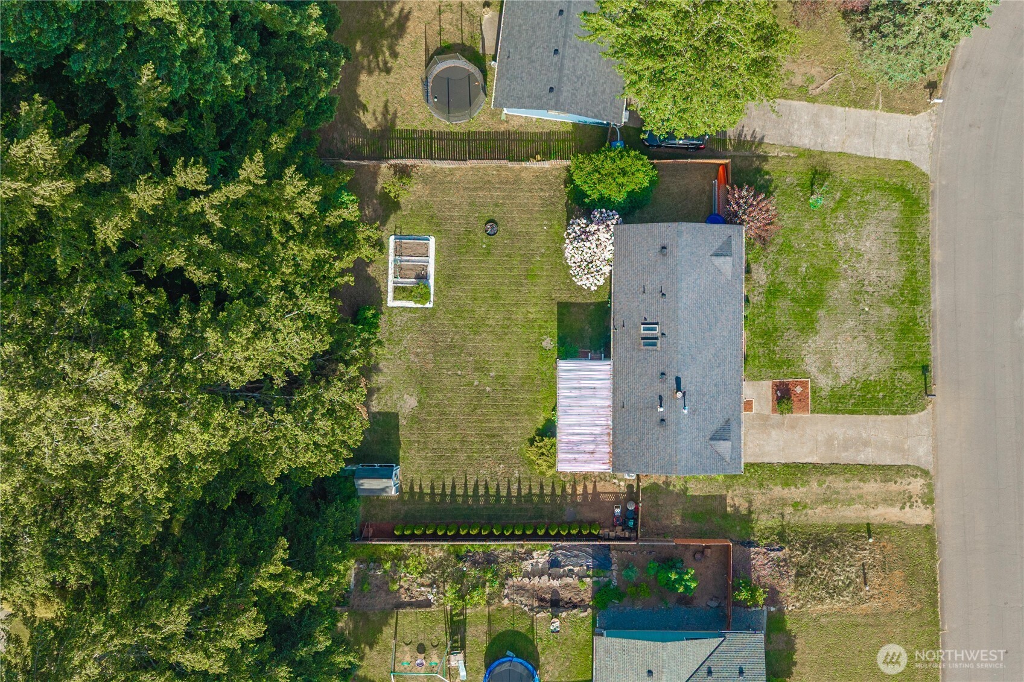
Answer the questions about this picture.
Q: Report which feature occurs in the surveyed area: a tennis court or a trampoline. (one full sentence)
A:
Of the two, only a trampoline appears.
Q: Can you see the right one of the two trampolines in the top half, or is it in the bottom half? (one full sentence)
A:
Seen from above, the right one of the two trampolines lies in the bottom half of the view.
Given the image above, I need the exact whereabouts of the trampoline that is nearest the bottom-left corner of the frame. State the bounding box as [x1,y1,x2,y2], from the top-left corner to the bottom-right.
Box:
[482,652,540,682]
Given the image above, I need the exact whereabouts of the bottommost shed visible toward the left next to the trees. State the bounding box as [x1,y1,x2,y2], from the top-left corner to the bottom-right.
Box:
[351,461,401,498]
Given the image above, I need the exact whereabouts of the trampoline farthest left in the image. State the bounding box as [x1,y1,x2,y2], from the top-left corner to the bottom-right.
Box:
[422,52,486,124]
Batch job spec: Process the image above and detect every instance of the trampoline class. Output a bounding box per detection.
[422,52,486,124]
[482,652,540,682]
